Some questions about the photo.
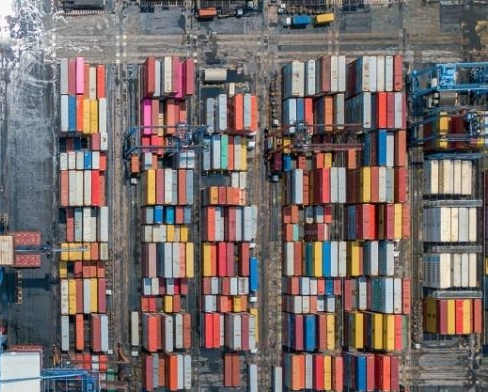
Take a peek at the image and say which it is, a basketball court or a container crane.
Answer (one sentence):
Visible in the photo is a container crane.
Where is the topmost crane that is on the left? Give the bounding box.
[127,123,214,159]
